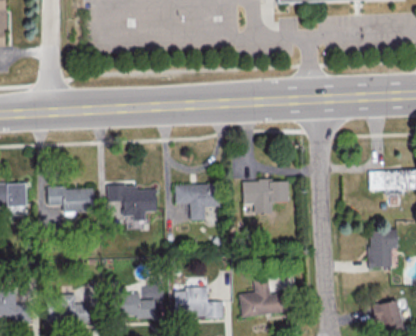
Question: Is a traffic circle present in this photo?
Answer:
No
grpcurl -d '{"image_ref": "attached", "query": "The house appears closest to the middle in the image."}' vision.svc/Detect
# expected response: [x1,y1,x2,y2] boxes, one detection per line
[175,184,218,221]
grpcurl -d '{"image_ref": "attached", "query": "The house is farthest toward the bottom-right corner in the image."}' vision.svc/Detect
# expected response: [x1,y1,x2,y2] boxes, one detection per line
[373,300,404,328]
